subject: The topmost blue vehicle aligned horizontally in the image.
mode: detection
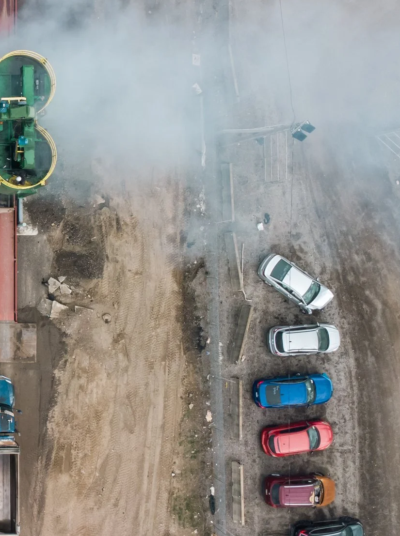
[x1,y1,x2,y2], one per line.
[249,372,333,408]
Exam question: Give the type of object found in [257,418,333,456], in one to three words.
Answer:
car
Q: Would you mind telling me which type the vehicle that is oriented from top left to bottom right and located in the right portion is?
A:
car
